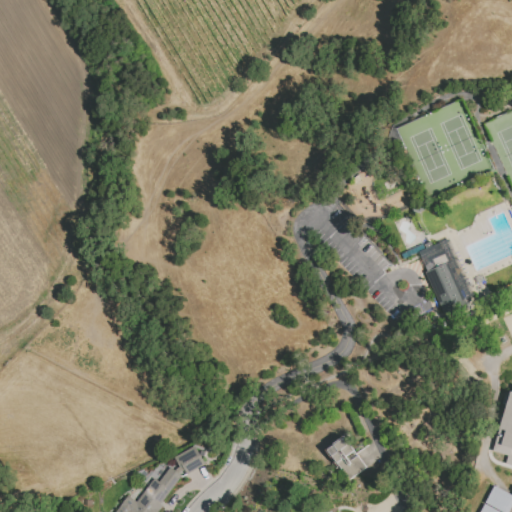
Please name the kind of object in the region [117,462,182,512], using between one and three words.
house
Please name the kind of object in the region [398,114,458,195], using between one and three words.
tennis court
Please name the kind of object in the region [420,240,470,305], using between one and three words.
building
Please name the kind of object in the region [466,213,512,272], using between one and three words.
swimming pool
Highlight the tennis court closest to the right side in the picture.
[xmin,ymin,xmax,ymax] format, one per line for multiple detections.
[486,112,512,182]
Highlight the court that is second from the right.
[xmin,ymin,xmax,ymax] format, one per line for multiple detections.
[430,102,488,178]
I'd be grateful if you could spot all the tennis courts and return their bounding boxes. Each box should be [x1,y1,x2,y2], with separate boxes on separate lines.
[398,114,458,195]
[430,102,488,178]
[486,112,512,182]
